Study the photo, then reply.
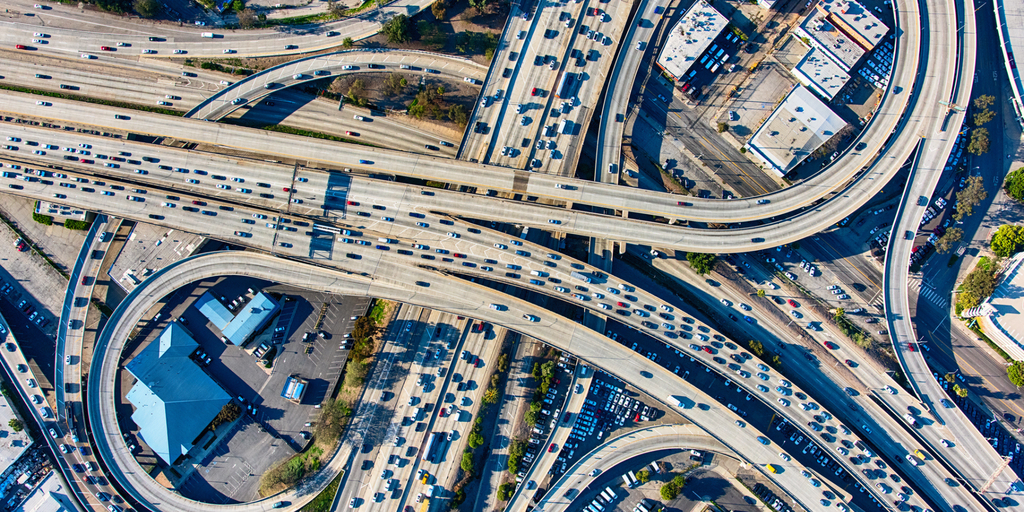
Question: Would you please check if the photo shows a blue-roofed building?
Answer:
Yes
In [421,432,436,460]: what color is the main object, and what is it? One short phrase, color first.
white vehicle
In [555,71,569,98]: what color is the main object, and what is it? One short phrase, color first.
white vehicle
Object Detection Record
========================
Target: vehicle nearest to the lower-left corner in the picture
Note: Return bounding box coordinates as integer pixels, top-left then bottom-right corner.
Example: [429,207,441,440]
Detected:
[13,471,31,485]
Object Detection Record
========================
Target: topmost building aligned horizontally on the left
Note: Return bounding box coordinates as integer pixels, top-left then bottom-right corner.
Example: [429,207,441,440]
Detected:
[36,200,97,222]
